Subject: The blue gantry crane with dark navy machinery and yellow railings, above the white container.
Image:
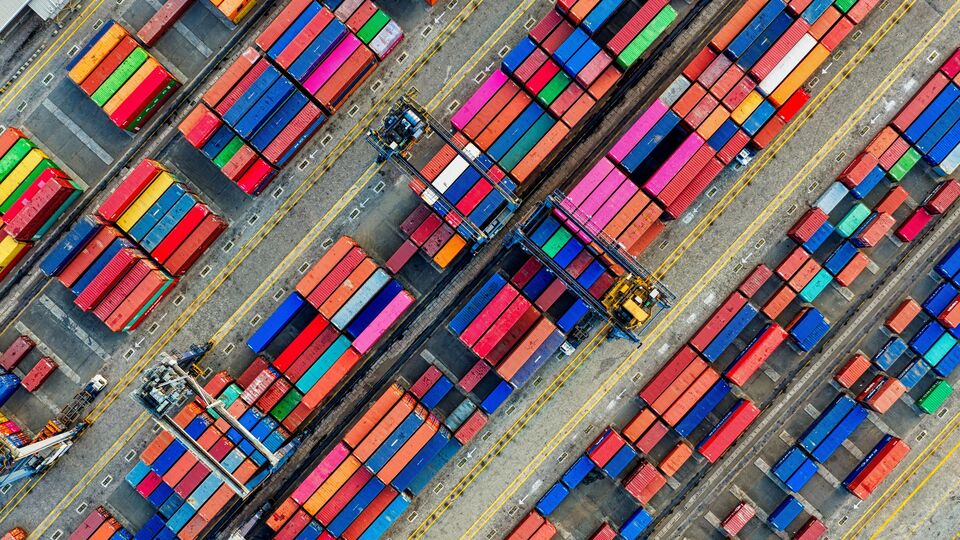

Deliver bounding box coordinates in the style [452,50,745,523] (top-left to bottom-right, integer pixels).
[365,89,526,253]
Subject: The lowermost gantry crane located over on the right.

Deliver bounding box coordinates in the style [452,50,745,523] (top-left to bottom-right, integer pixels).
[505,184,683,347]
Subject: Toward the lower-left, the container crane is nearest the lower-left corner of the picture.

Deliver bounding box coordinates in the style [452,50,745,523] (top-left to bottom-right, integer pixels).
[0,421,88,490]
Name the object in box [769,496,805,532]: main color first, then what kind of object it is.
blue shipping container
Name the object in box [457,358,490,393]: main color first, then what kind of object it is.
red shipping container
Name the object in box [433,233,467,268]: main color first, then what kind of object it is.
orange shipping container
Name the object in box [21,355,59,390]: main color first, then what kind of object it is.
red shipping container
